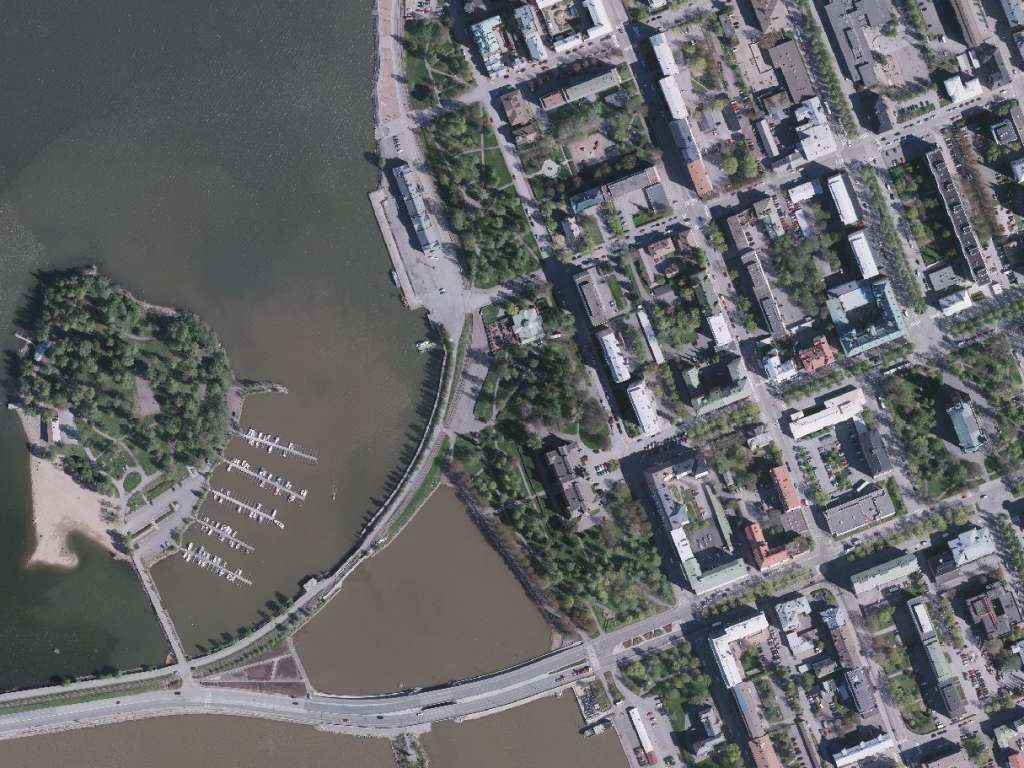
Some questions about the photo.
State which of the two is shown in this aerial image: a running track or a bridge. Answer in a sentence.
This aerial view contains a bridge.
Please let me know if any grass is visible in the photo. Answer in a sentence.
Yes, grass shows up in the scene.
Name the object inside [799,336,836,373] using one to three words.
house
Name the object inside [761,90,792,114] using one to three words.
shed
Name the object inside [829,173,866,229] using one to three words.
building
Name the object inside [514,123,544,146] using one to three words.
house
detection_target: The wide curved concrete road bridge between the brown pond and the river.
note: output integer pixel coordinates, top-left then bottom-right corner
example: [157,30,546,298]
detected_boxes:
[421,644,591,725]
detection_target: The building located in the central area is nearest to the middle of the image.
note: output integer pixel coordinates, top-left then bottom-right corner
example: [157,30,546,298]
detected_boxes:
[513,308,544,344]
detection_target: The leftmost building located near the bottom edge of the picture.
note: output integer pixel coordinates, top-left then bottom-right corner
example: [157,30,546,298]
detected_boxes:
[630,708,658,765]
